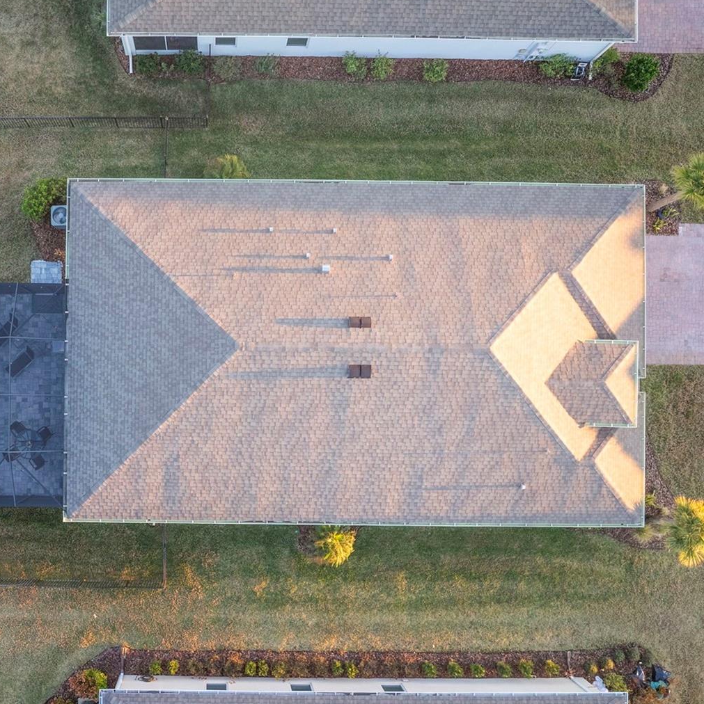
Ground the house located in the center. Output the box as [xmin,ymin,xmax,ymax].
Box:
[63,178,646,528]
